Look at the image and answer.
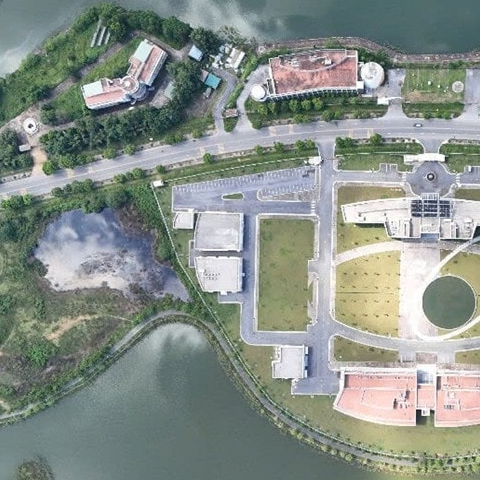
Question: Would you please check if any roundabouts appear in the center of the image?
No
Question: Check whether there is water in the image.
Yes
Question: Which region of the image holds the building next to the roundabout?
right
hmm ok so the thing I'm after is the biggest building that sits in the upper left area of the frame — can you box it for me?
[81,39,172,111]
